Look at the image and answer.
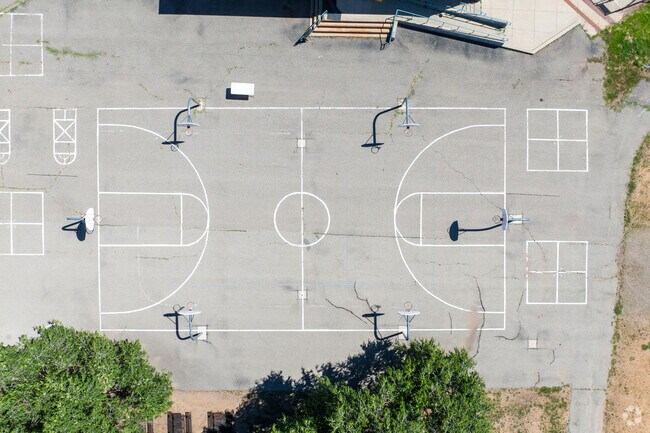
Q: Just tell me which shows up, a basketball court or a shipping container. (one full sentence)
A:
Visible in the photo is a basketball court.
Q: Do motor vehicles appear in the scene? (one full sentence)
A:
No, the picture doesn't show any motor vehicle.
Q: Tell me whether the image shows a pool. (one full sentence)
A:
No, I can't see a single pool in this photo.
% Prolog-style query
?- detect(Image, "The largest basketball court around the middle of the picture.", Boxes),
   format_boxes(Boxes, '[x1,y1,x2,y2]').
[97,107,506,331]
